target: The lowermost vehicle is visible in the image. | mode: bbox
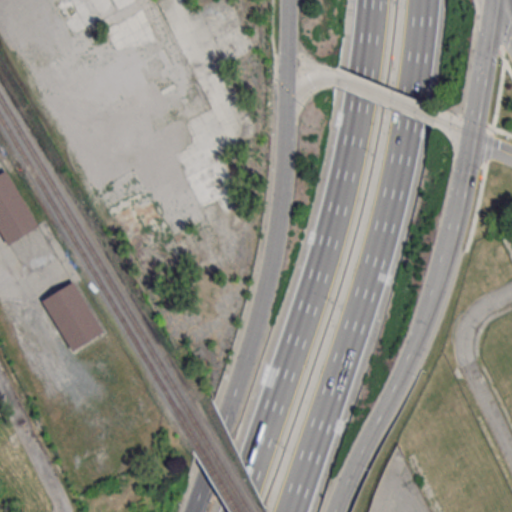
[247,424,267,470]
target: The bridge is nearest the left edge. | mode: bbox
[192,402,267,512]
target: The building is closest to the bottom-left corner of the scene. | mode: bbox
[40,282,104,351]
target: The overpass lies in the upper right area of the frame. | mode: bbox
[332,66,434,128]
